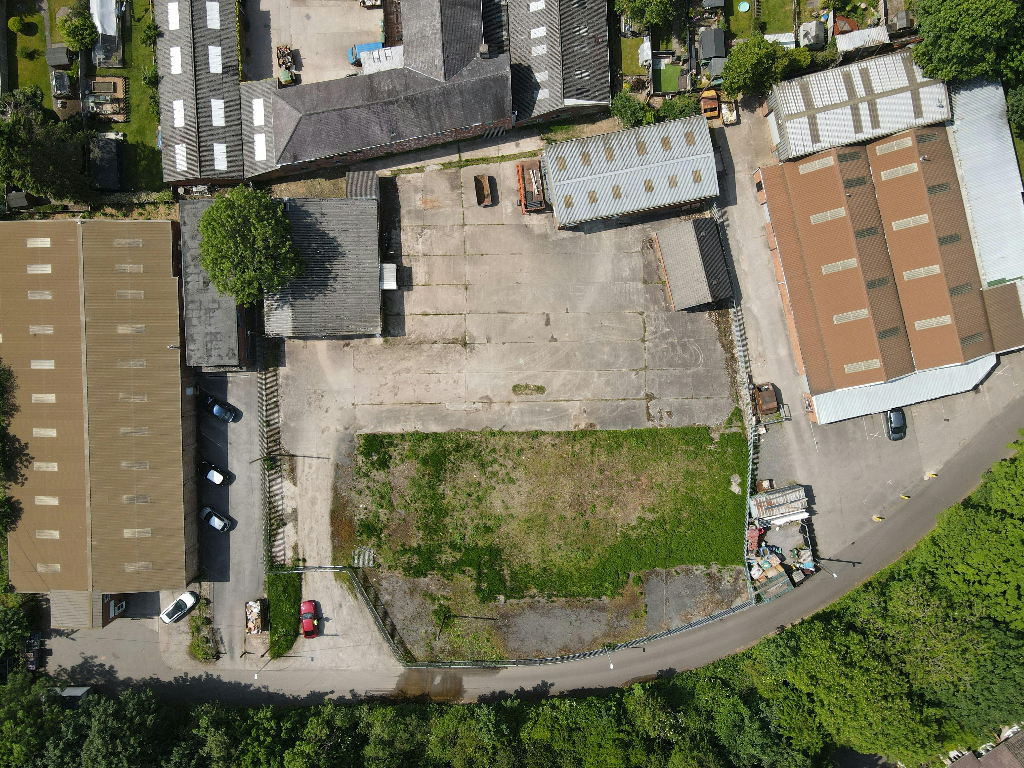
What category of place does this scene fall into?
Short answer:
industrial area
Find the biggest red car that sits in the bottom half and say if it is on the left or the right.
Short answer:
left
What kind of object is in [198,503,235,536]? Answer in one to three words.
car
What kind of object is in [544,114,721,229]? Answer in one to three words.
shed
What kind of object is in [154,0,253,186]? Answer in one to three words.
shed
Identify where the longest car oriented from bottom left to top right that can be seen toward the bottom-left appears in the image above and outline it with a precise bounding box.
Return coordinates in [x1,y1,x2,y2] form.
[157,589,198,627]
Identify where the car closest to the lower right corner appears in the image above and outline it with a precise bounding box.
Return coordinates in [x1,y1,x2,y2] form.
[884,406,909,443]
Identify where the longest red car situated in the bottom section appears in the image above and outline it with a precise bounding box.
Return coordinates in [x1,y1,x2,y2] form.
[298,600,320,639]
